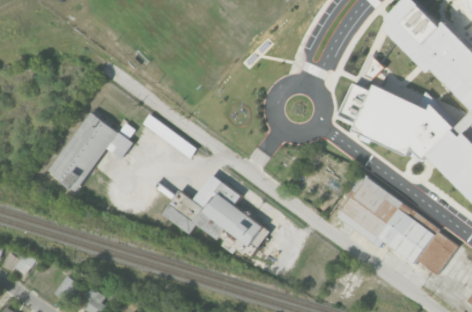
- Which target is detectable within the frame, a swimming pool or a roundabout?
roundabout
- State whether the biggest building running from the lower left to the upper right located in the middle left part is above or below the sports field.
below it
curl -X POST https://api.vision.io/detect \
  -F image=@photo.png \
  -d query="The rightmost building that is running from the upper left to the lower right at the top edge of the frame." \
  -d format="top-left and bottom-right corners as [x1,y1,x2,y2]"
[384,0,472,113]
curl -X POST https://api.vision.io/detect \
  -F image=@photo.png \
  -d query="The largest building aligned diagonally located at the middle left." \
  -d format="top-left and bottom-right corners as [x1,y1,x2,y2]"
[50,114,119,190]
